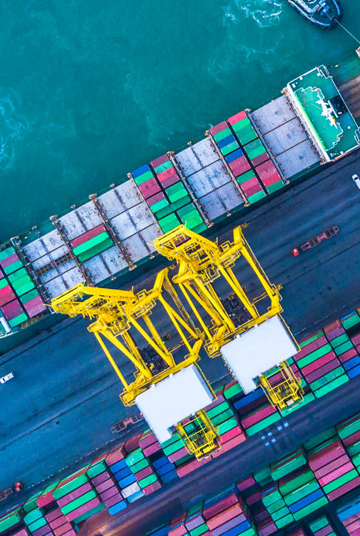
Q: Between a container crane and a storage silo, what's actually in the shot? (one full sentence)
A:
This aerial view contains a container crane.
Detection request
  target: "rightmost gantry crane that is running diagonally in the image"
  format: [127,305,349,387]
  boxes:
[151,217,308,418]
